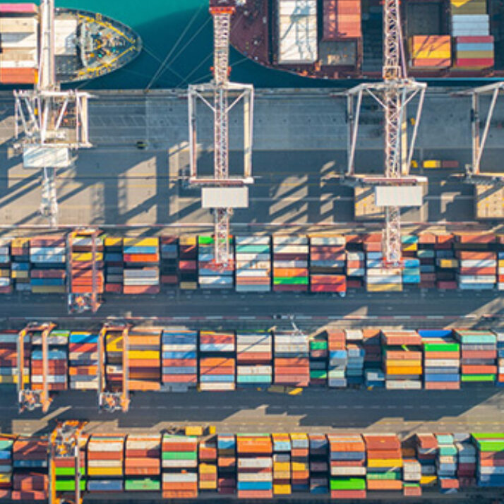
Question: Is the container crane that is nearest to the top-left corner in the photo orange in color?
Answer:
No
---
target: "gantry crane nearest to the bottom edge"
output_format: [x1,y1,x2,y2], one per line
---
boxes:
[47,420,90,504]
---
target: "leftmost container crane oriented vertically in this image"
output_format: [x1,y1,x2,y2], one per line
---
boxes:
[18,318,61,408]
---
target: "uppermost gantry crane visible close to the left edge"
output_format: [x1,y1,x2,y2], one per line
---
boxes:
[19,0,114,224]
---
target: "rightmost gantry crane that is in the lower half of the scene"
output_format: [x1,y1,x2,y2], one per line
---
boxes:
[98,318,137,410]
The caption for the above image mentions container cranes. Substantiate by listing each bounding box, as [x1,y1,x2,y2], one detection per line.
[19,0,114,224]
[98,318,137,410]
[454,83,504,185]
[67,225,107,311]
[47,420,90,504]
[333,0,432,268]
[181,0,260,266]
[18,318,61,408]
